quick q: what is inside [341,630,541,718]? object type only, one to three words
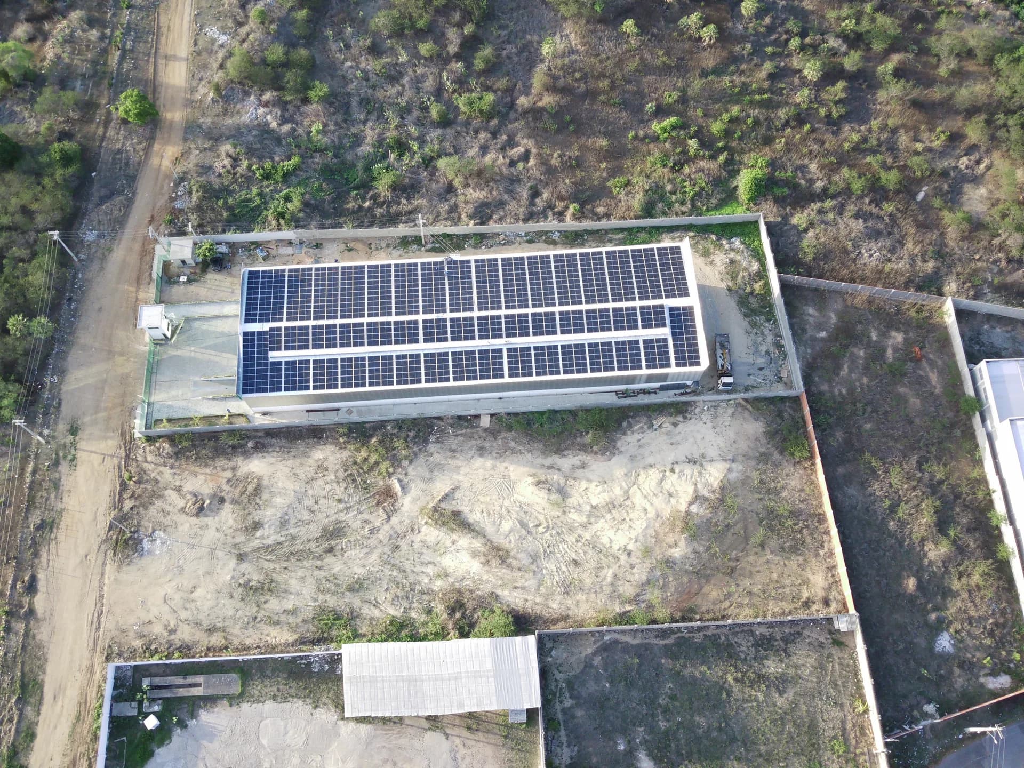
shed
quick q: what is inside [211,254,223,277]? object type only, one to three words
vehicle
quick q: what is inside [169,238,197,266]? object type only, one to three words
shed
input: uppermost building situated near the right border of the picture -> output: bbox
[971,358,1024,444]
